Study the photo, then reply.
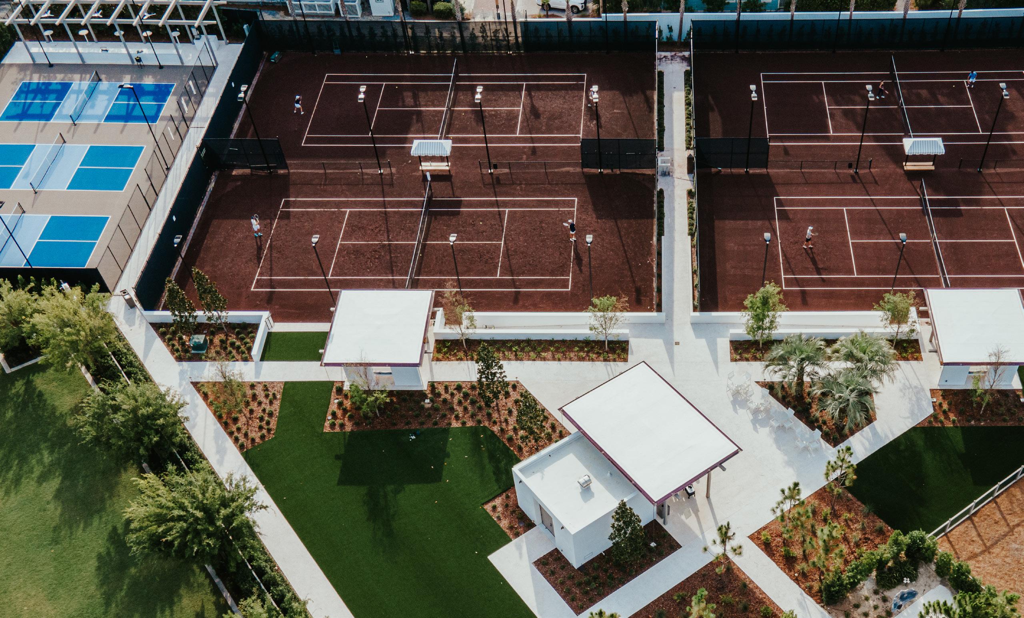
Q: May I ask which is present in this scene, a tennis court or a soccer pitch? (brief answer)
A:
tennis court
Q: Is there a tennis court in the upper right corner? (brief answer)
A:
Yes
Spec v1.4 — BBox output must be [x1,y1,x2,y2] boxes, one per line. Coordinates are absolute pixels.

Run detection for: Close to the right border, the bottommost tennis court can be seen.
[696,169,1024,322]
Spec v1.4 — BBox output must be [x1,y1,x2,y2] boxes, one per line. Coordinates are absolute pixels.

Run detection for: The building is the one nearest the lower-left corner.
[320,288,440,390]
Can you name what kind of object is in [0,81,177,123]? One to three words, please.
sports court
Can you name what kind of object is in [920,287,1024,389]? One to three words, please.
building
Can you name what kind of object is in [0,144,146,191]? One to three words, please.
sports court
